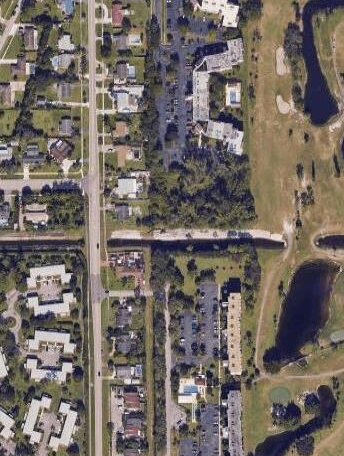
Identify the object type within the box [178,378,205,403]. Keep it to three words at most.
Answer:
swimming pool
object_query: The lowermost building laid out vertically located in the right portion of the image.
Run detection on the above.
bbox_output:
[228,391,243,456]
